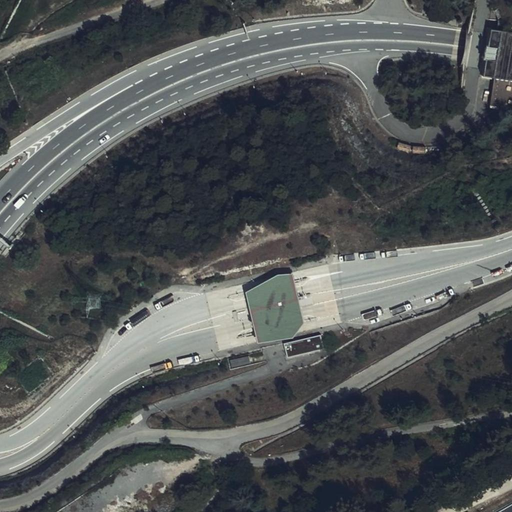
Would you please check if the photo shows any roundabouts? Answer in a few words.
Yes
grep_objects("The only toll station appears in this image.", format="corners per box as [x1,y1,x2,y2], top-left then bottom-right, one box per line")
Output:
[203,265,342,352]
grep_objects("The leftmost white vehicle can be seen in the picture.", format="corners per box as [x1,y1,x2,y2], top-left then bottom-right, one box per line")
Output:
[12,194,29,210]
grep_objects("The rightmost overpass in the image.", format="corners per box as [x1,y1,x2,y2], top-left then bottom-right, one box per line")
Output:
[463,8,490,88]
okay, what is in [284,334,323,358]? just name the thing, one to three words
building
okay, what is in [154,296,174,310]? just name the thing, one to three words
vehicle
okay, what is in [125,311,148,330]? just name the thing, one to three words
vehicle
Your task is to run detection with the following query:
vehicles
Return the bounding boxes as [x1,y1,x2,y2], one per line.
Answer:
[98,135,110,143]
[484,90,489,102]
[150,362,172,372]
[154,296,174,310]
[12,194,29,210]
[178,356,200,366]
[359,253,376,262]
[389,304,412,316]
[118,327,127,335]
[480,268,504,277]
[414,146,435,155]
[125,311,148,330]
[370,318,380,324]
[2,193,12,202]
[361,310,382,320]
[434,290,455,300]
[380,252,398,259]
[127,414,143,426]
[338,255,356,263]
[425,297,436,302]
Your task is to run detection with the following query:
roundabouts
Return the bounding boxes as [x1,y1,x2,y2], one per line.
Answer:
[320,57,460,148]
